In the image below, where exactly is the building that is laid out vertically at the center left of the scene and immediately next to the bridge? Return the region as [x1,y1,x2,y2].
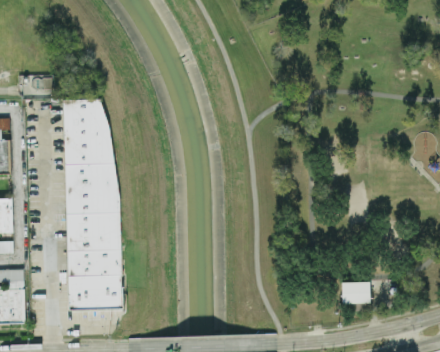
[63,100,124,310]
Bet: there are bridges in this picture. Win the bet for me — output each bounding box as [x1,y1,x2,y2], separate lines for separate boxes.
[130,334,278,352]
